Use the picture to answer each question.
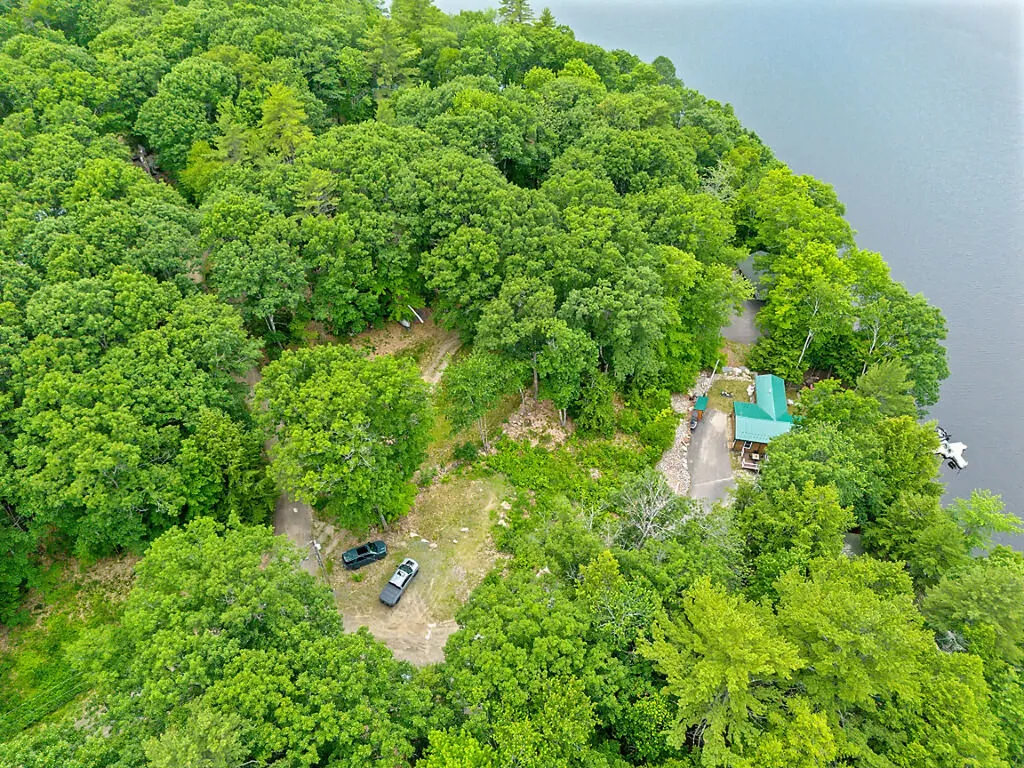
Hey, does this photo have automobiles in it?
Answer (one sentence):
Yes, looking at the shot, I can spot an automobile.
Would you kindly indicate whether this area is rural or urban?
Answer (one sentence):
The area is rural.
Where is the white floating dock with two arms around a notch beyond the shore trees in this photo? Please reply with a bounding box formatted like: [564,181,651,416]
[926,440,969,471]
